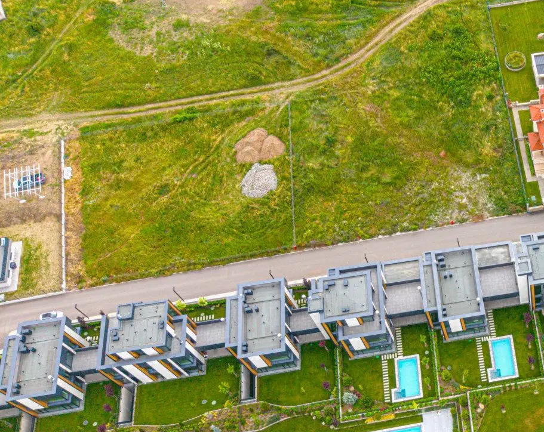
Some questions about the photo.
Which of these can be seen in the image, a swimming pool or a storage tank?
swimming pool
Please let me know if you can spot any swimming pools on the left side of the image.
No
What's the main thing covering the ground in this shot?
grass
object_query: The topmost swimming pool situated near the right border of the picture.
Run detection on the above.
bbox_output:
[487,335,518,382]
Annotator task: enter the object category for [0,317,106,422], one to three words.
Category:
house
